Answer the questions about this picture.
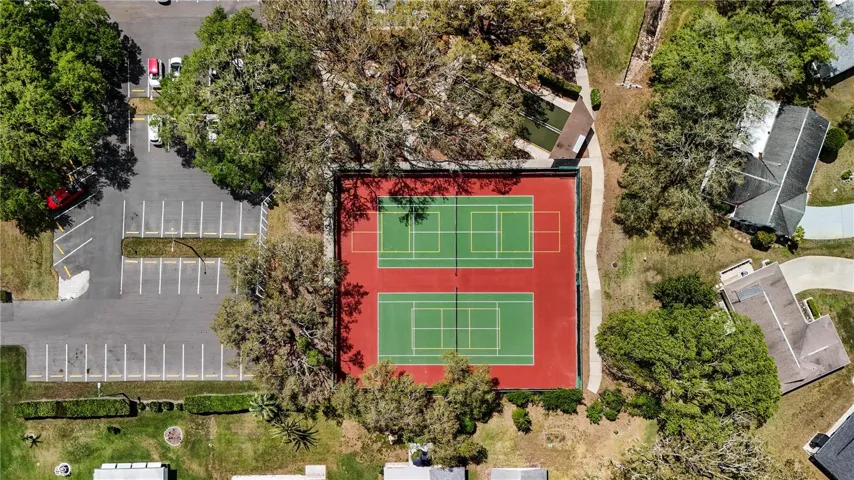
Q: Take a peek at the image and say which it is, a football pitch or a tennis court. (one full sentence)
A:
The image shows a tennis court.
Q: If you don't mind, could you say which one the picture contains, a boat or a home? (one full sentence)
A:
This aerial view contains a home.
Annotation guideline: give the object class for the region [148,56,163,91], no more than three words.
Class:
vehicle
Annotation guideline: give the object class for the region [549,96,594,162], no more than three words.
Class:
building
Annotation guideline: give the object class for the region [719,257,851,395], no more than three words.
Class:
house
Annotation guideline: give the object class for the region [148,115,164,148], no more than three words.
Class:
car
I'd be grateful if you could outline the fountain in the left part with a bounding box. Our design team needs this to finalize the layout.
[54,462,71,478]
